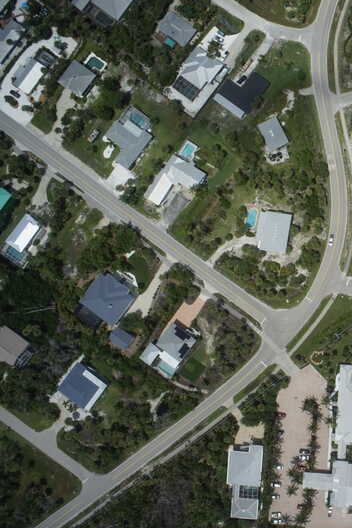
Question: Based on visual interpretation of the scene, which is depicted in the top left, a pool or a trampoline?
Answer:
pool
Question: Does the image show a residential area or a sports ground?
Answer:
residential area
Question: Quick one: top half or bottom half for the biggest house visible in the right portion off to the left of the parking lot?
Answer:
bottom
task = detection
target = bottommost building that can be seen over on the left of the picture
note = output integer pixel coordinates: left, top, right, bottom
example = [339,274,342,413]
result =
[58,354,109,411]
